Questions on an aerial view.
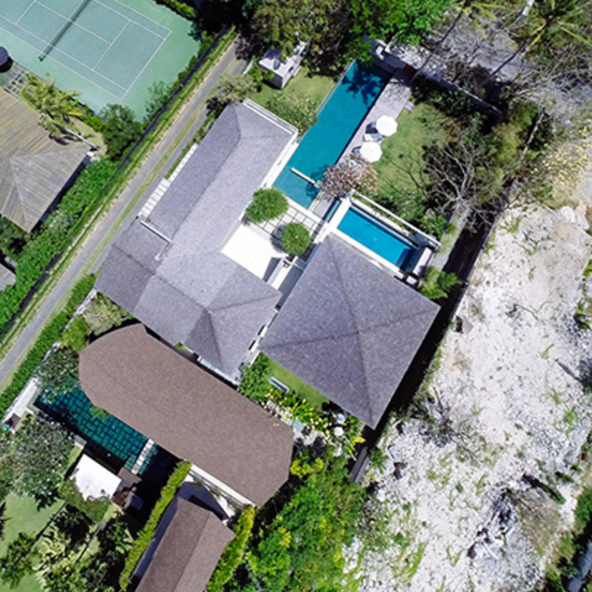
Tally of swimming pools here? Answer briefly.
3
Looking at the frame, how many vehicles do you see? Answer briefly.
zero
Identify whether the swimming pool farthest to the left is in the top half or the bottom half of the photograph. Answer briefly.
bottom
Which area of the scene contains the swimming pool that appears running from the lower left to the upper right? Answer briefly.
top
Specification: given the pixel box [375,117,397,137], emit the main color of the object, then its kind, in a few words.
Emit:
white umbrella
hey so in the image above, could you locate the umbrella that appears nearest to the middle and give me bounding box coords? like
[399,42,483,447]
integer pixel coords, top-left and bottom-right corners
[359,142,382,163]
